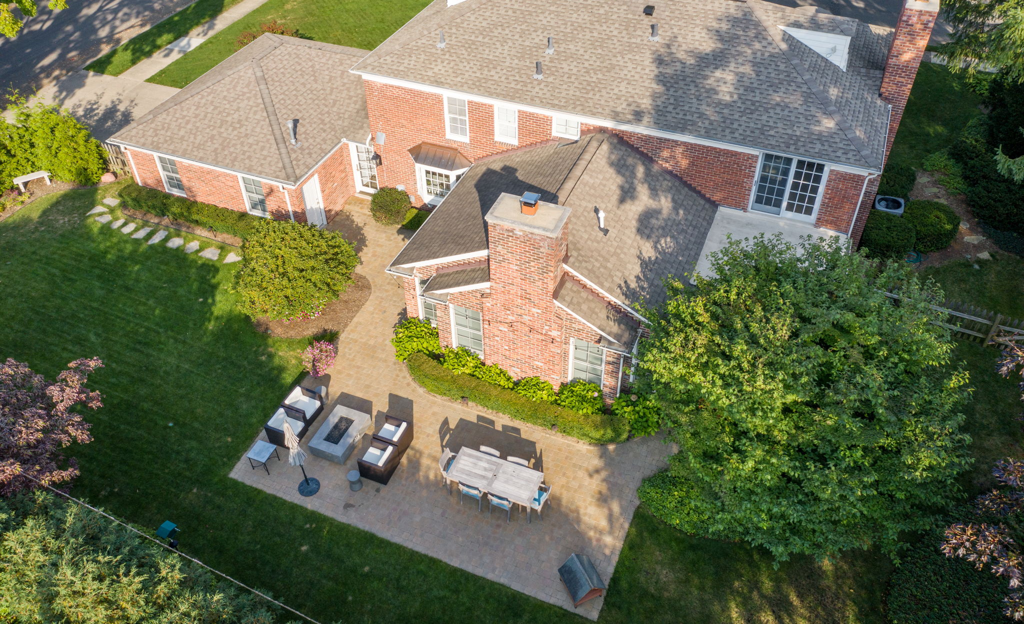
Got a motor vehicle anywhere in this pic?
No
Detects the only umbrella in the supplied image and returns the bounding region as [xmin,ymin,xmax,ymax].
[285,417,321,496]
